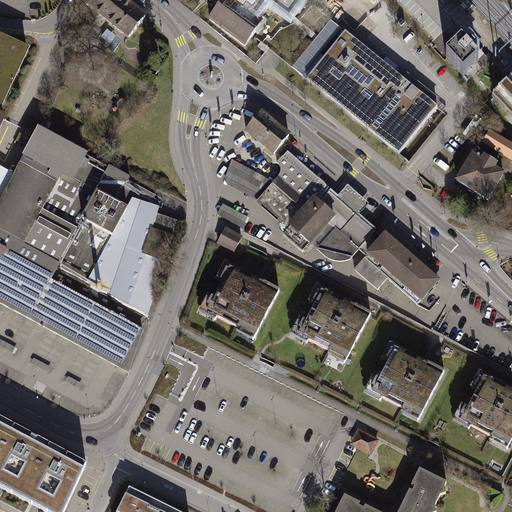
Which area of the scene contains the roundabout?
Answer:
top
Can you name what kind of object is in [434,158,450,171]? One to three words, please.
vehicle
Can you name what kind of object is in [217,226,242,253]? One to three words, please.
house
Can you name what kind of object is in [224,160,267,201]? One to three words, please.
shed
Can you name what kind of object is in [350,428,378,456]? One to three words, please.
building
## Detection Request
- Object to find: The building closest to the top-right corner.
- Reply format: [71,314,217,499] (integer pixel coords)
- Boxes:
[445,28,486,76]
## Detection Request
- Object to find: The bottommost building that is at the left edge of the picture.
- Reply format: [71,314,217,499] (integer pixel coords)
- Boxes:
[0,415,87,512]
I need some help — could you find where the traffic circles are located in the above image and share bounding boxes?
[180,48,242,107]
